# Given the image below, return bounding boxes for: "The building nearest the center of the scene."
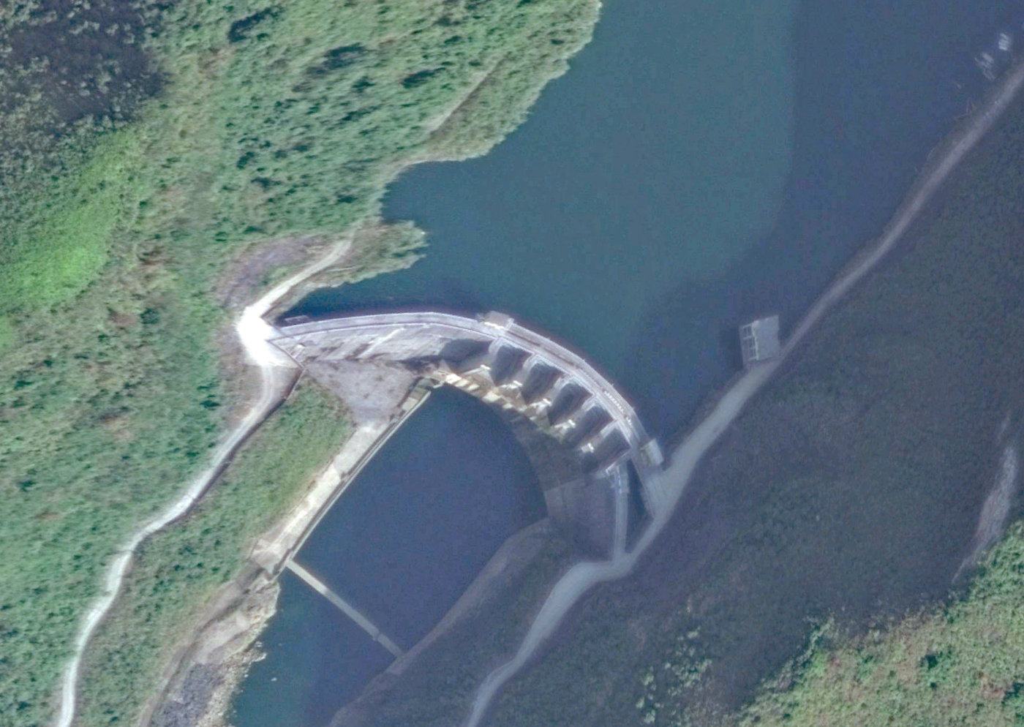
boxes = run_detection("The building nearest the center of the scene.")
[483,311,510,330]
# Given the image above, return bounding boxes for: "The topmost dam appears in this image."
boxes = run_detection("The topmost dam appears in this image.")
[274,312,665,556]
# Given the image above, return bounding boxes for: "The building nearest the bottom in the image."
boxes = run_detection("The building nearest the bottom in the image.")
[645,439,667,465]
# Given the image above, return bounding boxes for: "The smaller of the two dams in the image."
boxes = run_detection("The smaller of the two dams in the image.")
[283,557,404,656]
